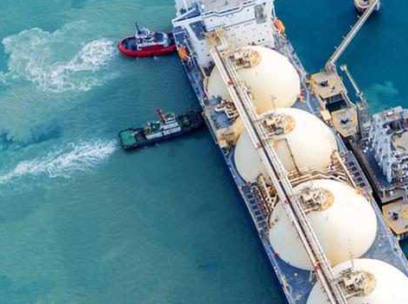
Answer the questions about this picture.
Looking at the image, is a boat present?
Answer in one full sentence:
Yes, a boat is visible in the scene.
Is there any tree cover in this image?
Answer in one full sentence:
No, the scene doesn't show any tree cover.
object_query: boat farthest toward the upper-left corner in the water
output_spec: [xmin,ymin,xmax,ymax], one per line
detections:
[111,21,175,58]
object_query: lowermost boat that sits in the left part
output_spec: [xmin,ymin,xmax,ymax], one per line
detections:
[115,104,199,154]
